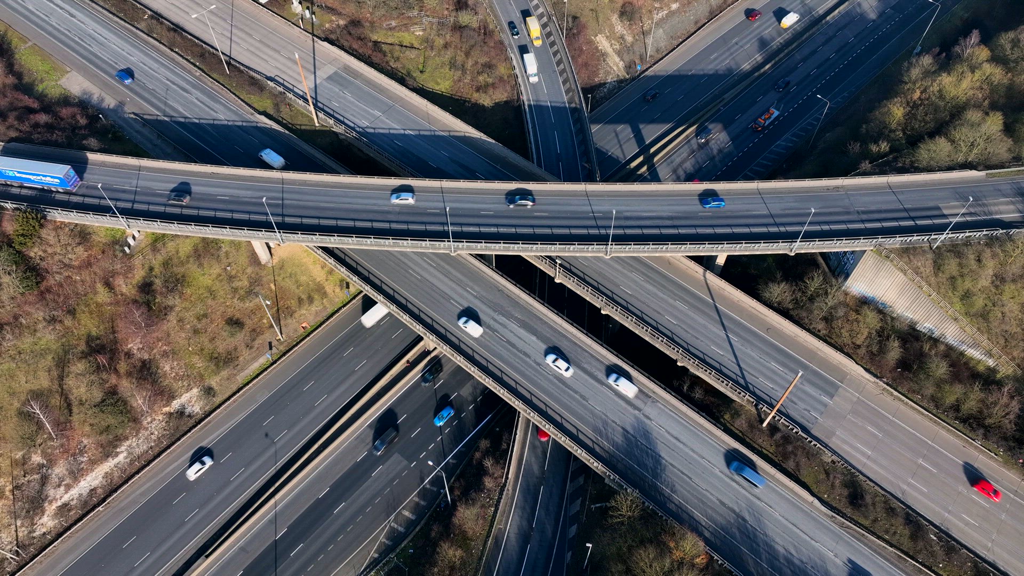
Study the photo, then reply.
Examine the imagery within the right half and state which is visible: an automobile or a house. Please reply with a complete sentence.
There is an automobile within the right half.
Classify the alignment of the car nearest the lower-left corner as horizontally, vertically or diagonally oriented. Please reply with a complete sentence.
In this picture, the car nearest the lower-left corner lies diagonally.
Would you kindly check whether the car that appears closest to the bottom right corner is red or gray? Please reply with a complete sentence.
The car that appears closest to the bottom right corner looks red in the image.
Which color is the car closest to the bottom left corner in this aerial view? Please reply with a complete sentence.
In this view, the car closest to the bottom left corner is white.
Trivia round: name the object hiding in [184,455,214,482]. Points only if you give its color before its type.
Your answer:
white car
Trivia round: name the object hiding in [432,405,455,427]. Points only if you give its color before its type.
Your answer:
blue car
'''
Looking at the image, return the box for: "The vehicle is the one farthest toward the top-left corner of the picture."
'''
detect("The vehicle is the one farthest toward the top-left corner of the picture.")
[115,70,134,83]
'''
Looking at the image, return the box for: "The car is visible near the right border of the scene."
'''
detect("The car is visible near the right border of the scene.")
[968,475,1005,505]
